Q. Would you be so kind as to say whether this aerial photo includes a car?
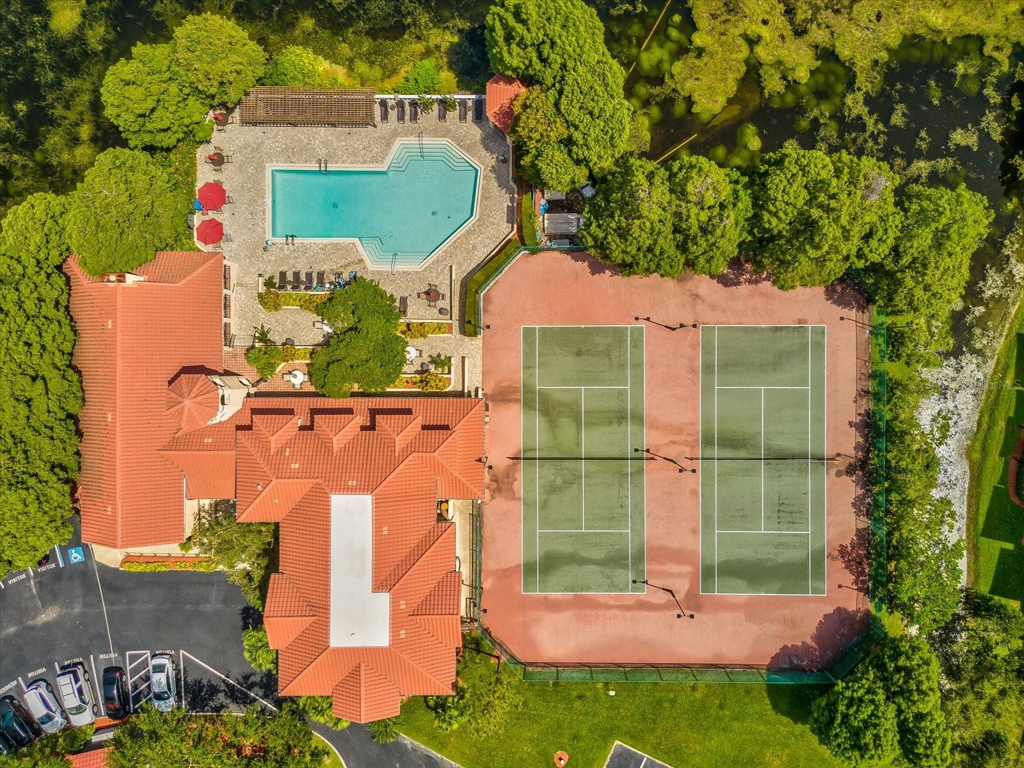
Yes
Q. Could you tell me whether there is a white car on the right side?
No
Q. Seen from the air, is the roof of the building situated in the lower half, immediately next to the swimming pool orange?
Yes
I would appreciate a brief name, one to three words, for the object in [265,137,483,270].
swimming pool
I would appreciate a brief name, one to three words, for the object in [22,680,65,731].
car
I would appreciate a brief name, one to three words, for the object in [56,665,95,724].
car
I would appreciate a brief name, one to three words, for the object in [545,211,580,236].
shed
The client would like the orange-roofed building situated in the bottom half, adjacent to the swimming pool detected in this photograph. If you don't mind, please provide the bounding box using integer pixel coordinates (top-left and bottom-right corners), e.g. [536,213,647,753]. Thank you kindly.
[58,250,486,724]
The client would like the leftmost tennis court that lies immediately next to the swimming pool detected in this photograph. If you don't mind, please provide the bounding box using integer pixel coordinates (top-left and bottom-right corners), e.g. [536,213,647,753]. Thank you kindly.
[513,325,656,594]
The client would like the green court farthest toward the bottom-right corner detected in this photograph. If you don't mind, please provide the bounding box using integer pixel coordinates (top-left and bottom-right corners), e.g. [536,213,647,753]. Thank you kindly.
[693,325,842,595]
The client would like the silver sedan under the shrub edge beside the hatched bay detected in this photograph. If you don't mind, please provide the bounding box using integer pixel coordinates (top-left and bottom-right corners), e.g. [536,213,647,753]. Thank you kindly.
[149,655,178,710]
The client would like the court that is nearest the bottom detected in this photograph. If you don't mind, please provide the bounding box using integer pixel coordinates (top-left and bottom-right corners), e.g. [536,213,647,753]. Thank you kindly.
[602,742,675,768]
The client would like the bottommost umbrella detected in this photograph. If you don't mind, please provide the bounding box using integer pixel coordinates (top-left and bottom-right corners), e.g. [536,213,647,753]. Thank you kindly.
[196,218,223,245]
